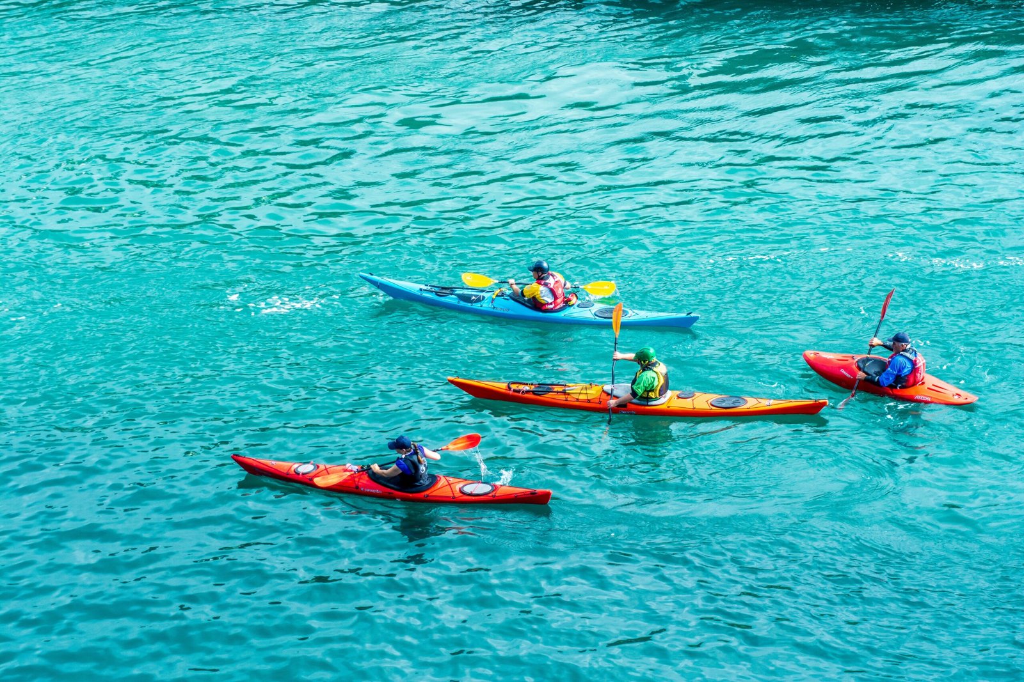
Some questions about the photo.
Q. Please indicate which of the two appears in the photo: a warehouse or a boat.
boat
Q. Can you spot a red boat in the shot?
Yes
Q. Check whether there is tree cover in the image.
No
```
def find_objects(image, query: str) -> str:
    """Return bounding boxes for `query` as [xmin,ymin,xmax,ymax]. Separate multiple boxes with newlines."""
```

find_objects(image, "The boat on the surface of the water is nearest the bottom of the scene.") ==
[231,455,551,510]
